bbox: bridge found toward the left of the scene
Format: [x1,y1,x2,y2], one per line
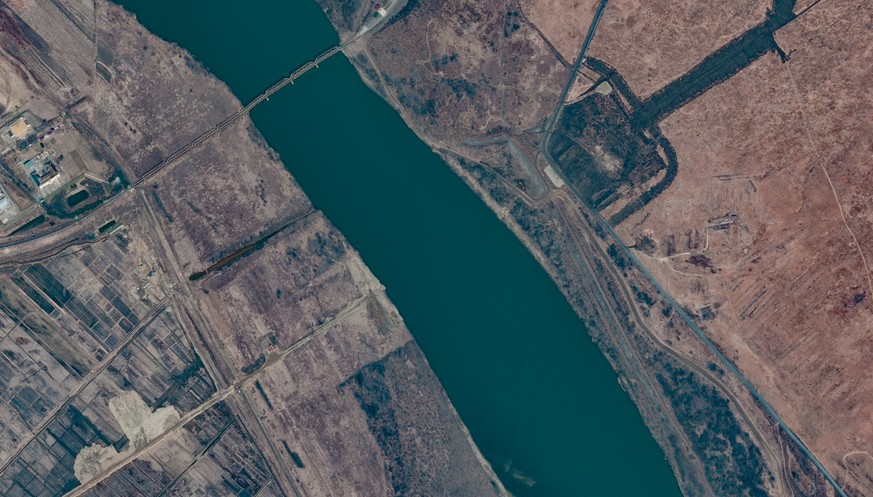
[130,43,346,188]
